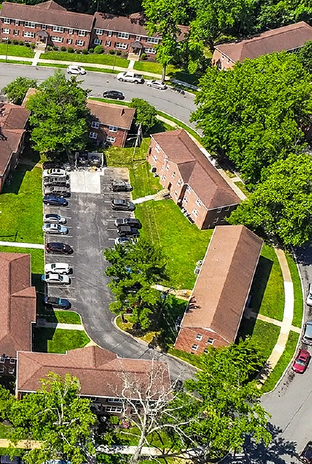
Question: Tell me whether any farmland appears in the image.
No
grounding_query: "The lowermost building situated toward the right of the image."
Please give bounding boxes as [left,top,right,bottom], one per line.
[176,226,264,357]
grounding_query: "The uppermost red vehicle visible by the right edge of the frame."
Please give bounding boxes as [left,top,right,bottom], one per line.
[292,350,310,374]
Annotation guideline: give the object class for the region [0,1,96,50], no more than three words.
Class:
house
